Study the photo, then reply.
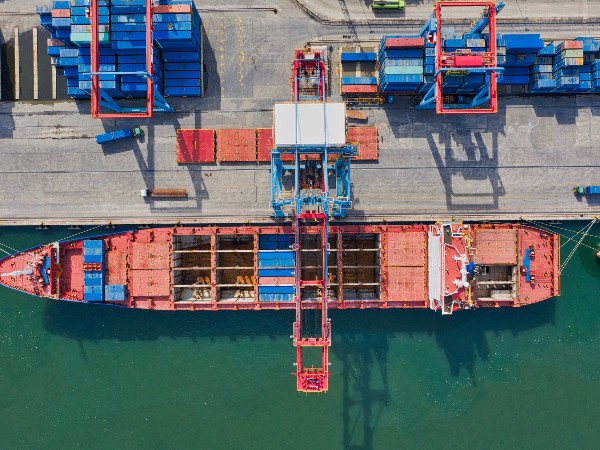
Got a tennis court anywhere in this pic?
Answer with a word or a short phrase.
No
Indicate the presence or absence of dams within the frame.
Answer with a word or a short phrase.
No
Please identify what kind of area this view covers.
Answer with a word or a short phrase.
port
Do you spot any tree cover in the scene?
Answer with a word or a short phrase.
No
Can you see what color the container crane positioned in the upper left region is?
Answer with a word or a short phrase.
red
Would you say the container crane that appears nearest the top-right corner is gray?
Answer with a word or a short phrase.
No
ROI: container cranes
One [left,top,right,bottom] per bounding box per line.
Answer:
[83,0,176,120]
[268,54,366,397]
[414,1,505,112]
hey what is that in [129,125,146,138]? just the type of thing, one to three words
vehicle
